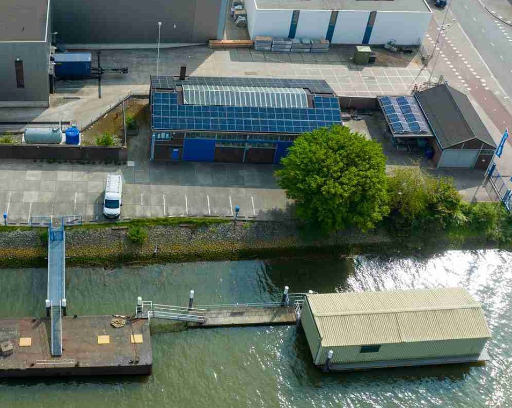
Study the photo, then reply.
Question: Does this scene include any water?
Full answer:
Yes, water can be seen from above here.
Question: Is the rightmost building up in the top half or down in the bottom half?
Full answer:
The top half of the photo is where the rightmost building is.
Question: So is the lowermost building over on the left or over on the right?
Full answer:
The lowermost building sits on the right side.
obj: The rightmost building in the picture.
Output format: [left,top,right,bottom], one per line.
[404,80,499,170]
